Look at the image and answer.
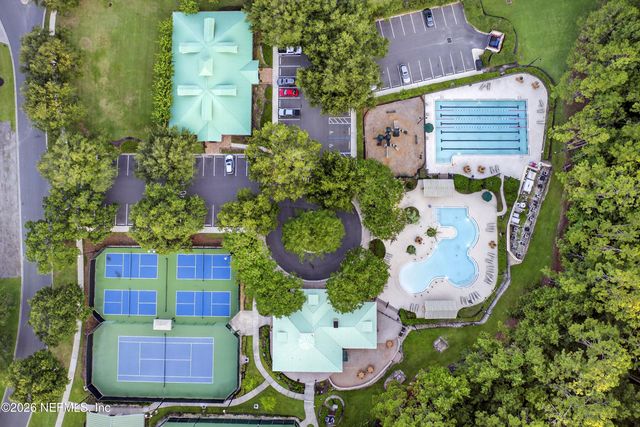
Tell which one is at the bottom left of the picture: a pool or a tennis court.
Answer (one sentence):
There is a tennis court at the bottom left of the picture.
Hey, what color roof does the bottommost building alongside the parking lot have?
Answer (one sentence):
The roof over the bottommost building alongside the parking lot appears white.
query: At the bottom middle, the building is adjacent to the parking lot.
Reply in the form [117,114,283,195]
[272,289,377,372]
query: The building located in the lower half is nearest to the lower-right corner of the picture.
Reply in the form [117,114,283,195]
[423,299,458,319]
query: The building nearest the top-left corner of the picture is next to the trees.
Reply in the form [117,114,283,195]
[169,12,259,141]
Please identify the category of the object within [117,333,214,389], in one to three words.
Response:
tennis court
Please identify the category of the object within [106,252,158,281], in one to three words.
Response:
sports court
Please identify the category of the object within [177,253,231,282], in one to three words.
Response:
sports court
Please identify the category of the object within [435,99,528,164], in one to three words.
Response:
swimming pool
